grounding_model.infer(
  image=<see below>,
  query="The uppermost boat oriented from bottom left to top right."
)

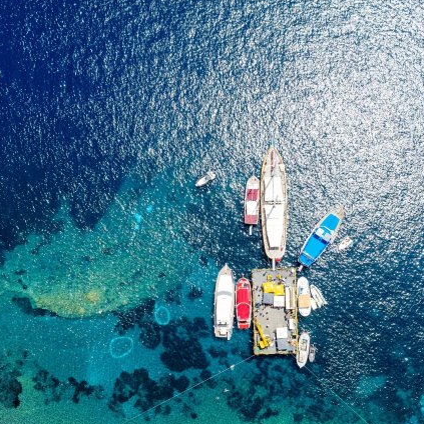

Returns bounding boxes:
[196,170,217,185]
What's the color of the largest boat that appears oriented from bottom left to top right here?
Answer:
blue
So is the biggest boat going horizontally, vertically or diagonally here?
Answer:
vertically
